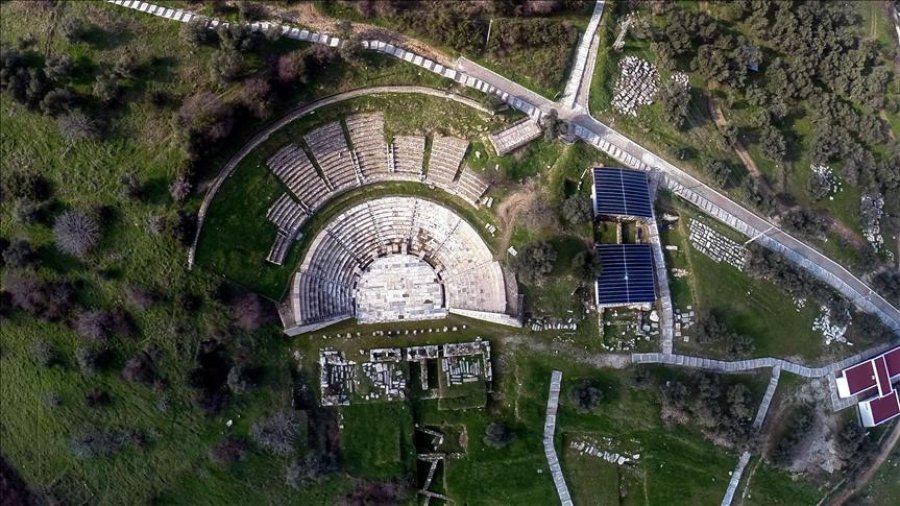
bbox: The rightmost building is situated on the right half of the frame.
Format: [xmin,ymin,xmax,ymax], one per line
[837,346,900,426]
